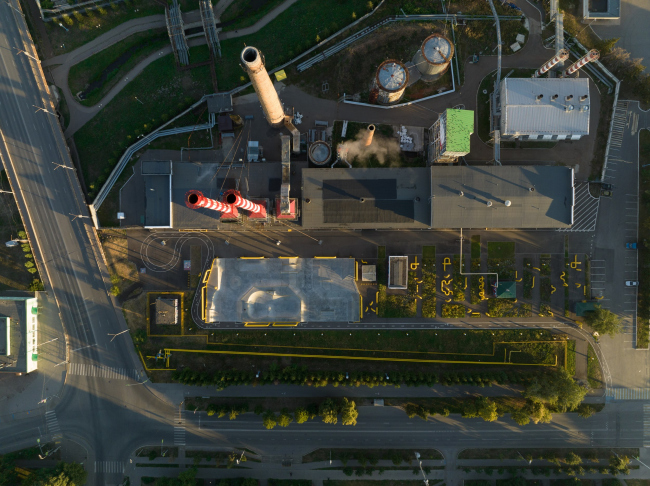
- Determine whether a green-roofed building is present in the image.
Yes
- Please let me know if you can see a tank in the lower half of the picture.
No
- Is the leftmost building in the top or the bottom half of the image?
bottom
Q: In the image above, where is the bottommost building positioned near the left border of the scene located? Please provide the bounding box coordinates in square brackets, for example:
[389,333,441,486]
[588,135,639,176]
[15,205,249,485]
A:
[0,296,41,379]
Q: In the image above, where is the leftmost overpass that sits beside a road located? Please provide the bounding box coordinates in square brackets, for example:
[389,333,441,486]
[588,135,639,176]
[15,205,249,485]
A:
[0,0,133,353]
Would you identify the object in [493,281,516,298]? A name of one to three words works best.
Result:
shed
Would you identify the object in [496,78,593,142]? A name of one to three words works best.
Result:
building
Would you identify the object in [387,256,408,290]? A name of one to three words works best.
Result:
building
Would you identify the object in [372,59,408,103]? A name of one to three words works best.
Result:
storage tank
